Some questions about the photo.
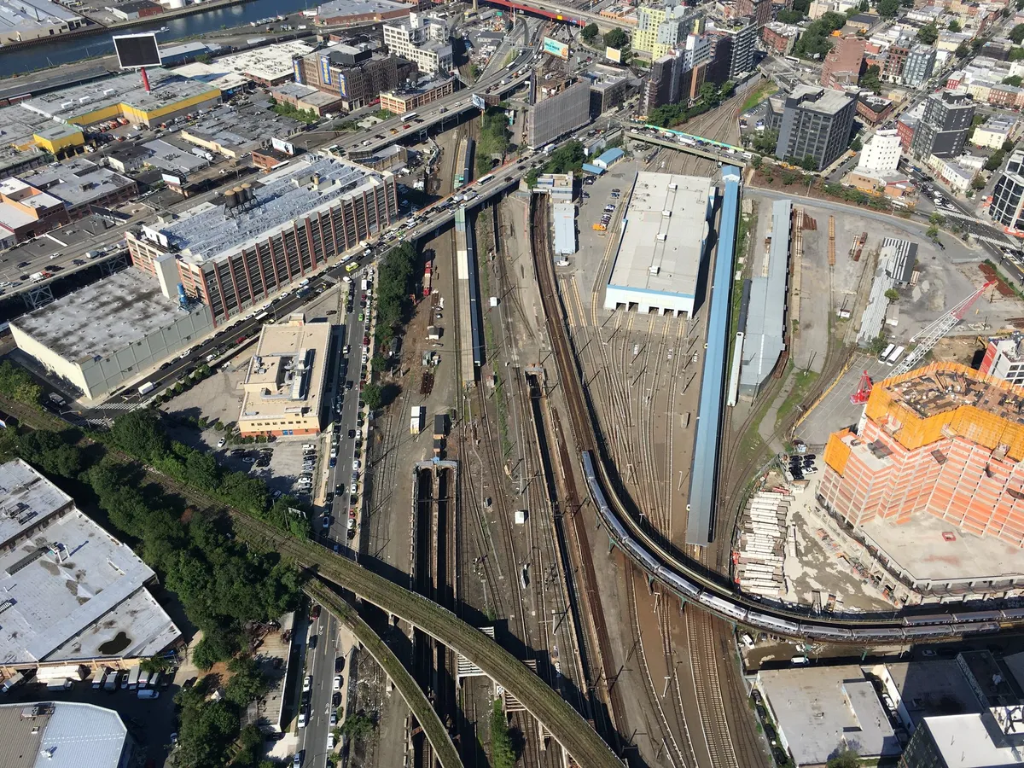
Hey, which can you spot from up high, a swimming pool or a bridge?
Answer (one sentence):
It is a bridge that can be seen here.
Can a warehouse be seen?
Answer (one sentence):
Yes, looking at the shot, I can spot a warehouse.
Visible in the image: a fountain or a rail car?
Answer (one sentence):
Of the two, only a rail car appears.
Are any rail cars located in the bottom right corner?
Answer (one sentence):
Yes, a rail car can be seen in the bottom right corner.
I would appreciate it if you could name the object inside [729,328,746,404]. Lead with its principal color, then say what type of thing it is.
white rail car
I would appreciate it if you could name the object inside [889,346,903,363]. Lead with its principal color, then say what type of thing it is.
white vehicle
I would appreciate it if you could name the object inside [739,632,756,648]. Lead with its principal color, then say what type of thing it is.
white vehicle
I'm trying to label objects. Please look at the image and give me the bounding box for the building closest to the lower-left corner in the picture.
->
[0,701,136,768]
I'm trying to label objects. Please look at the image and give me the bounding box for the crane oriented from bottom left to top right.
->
[847,281,996,405]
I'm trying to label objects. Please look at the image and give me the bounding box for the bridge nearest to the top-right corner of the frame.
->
[625,121,763,177]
